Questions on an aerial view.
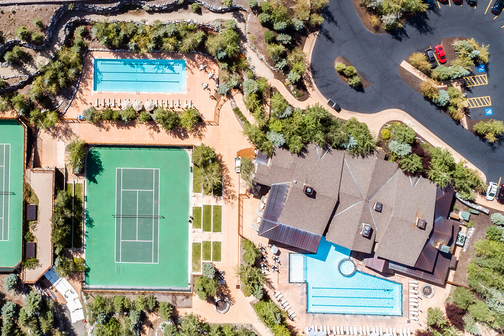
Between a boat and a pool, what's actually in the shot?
pool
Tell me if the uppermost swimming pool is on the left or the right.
left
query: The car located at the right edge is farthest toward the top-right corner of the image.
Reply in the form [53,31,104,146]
[491,0,504,14]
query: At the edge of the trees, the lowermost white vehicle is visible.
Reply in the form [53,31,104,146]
[485,181,498,201]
